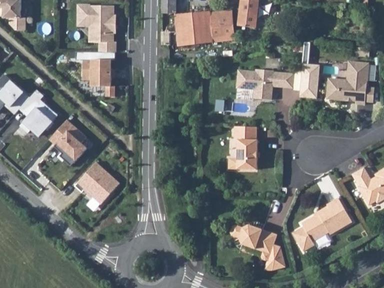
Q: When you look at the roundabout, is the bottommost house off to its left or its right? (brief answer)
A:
on its right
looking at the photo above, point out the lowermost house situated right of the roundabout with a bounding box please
[232,224,286,272]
